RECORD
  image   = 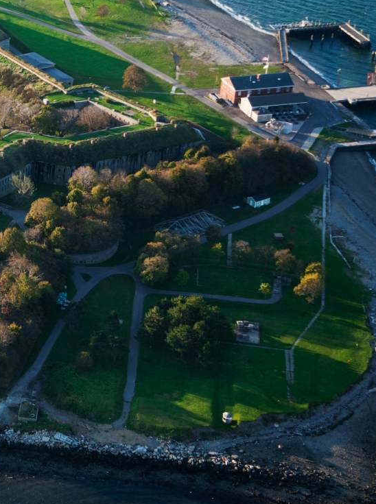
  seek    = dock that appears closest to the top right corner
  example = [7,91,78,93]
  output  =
[339,17,372,51]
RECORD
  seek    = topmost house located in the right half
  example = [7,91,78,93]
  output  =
[224,68,297,106]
